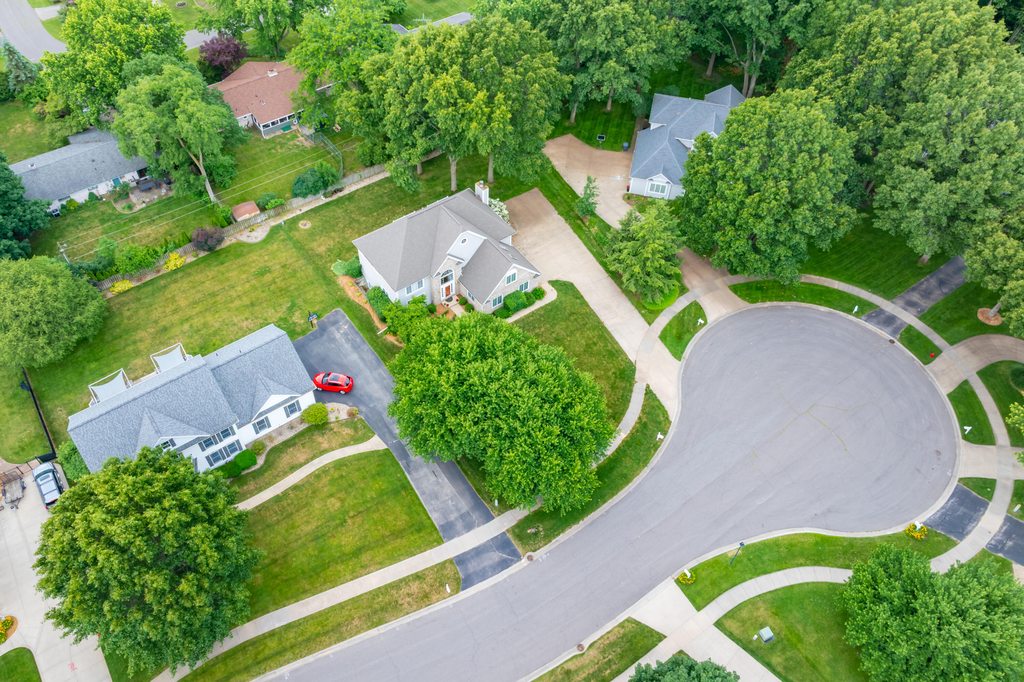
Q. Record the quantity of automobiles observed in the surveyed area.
2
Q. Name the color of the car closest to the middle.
red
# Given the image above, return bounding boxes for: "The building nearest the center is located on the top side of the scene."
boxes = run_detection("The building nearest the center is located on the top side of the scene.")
[352,179,542,314]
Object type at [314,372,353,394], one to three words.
car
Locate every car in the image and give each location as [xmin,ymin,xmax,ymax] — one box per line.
[33,467,68,517]
[314,372,353,394]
